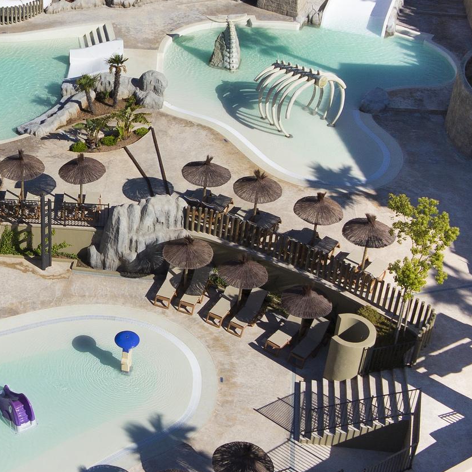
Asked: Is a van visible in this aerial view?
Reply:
No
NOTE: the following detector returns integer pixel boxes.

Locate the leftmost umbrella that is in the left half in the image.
[0,145,45,202]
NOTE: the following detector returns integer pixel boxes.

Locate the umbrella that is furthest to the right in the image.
[344,212,398,263]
